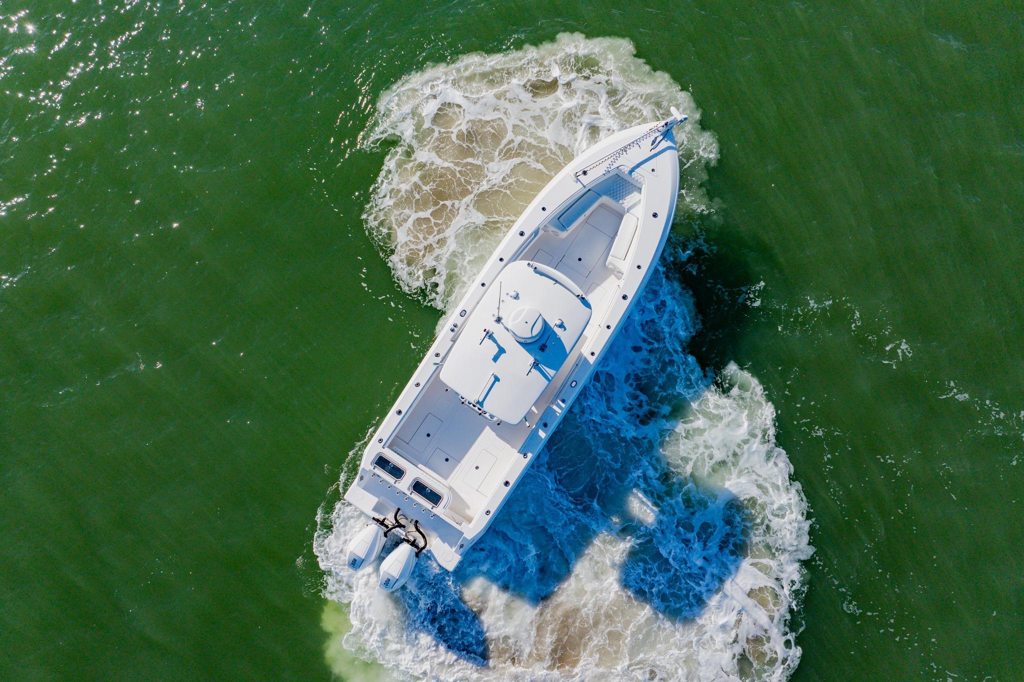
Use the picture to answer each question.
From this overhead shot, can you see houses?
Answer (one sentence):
No, I find no house anywhere in the image.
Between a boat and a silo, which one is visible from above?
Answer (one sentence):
There is a boat in the scene.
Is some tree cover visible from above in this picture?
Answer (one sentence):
No, there's no tree cover in this view.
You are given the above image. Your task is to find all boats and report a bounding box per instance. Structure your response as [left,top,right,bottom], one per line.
[346,108,688,590]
